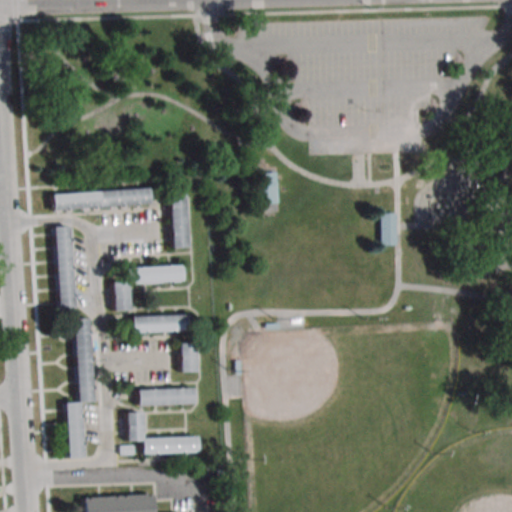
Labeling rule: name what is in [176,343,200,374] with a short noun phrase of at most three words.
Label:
house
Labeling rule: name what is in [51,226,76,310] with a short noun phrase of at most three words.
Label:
house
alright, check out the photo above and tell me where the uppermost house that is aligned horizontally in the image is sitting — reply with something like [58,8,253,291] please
[50,186,154,212]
